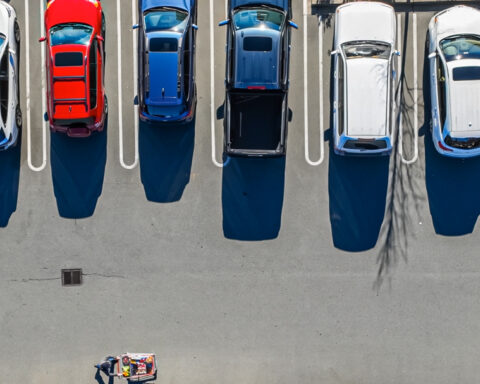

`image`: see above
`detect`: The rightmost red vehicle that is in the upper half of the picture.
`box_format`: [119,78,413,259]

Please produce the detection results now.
[38,0,104,139]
